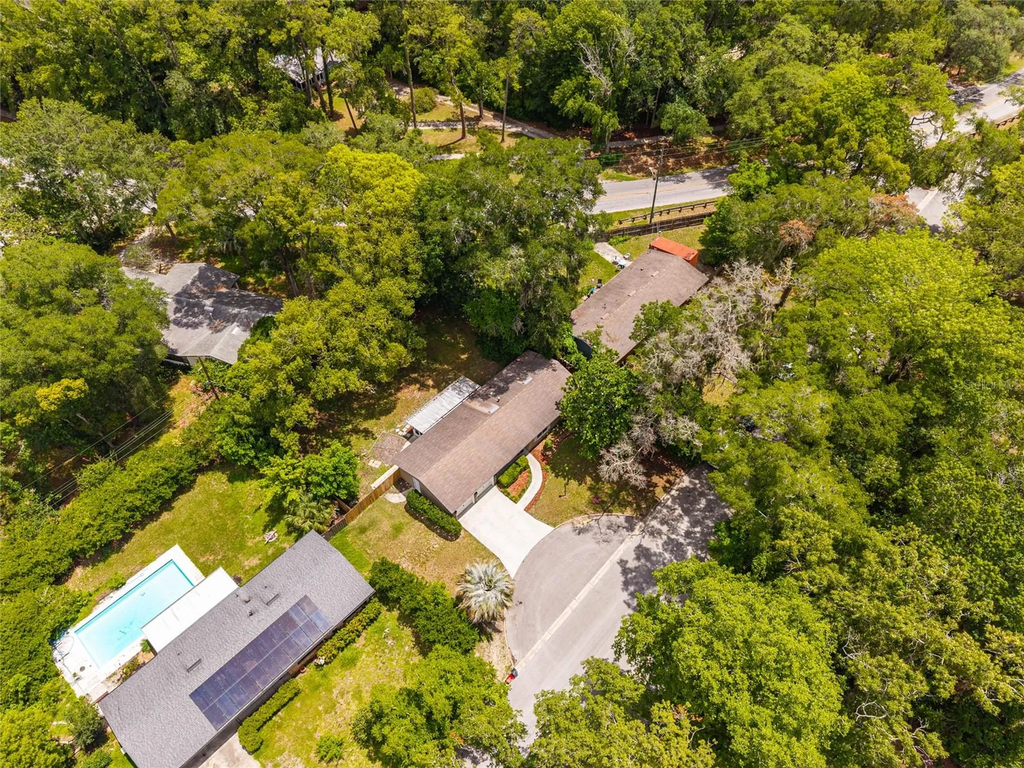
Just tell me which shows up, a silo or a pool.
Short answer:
pool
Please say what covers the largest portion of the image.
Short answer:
trees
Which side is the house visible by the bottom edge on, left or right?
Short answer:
left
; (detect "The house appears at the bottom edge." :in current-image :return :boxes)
[98,532,376,768]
